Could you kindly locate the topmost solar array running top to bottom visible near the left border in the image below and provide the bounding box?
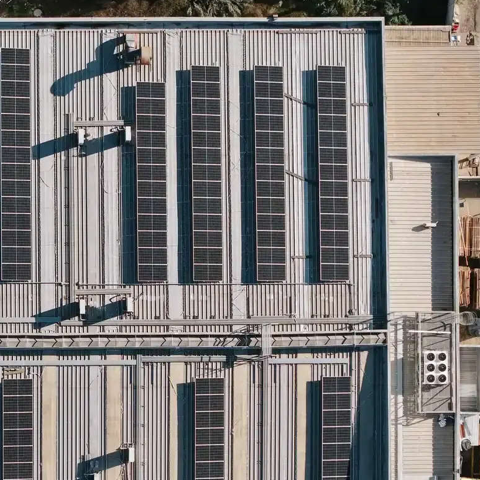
[0,48,31,281]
